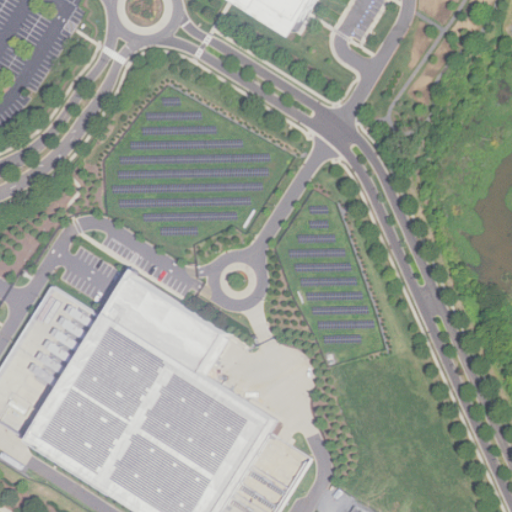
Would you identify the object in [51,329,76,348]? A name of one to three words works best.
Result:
vehicle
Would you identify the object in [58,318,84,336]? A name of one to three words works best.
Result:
vehicle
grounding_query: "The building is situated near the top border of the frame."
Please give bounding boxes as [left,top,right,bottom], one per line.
[224,0,312,37]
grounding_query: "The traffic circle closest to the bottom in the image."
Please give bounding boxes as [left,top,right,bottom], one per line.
[219,262,256,299]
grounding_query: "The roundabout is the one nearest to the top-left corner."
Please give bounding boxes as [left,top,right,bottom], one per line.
[117,0,173,36]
